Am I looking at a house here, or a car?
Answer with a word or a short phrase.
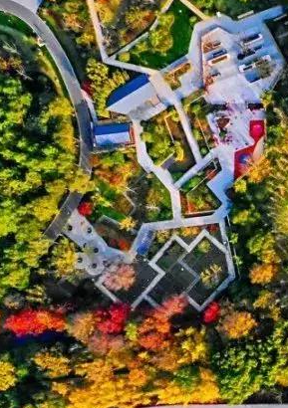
house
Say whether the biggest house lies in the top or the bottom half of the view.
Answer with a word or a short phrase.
top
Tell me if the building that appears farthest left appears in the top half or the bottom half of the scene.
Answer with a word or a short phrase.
top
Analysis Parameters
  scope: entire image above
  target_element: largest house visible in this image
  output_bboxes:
[106,71,167,126]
